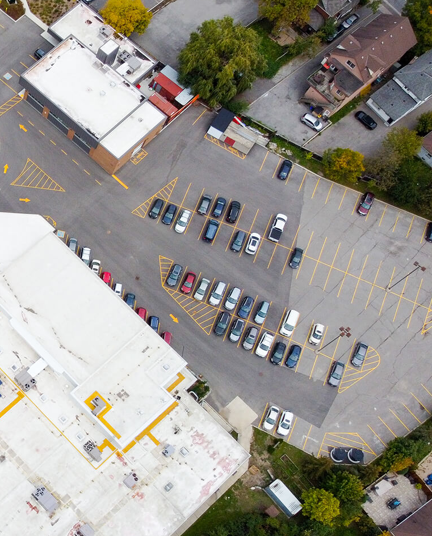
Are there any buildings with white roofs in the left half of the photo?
Yes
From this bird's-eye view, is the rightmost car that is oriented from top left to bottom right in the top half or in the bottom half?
top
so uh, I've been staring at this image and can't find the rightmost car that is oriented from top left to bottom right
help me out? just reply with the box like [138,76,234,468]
[353,110,378,131]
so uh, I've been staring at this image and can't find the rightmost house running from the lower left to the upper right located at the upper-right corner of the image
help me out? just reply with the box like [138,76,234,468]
[363,49,432,131]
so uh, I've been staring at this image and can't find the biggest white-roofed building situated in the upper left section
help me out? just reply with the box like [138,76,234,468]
[18,2,166,174]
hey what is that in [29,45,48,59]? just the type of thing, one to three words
vehicle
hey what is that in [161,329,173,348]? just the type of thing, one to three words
vehicle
